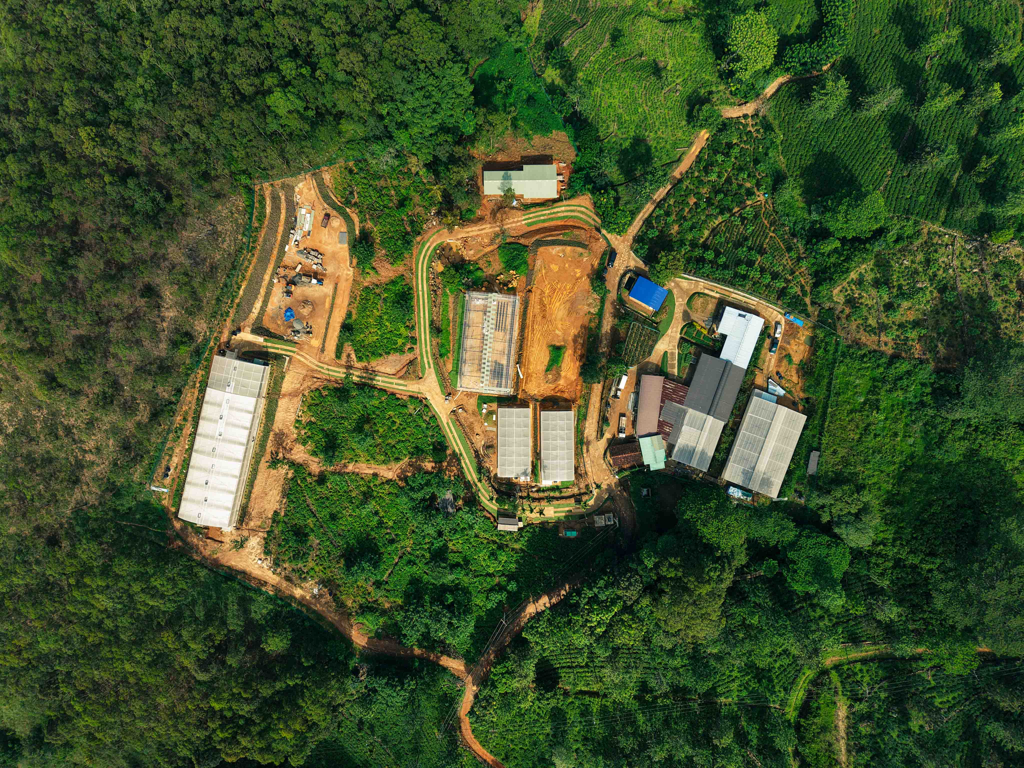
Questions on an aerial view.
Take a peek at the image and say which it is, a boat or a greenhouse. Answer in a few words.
greenhouse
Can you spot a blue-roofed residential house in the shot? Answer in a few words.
Yes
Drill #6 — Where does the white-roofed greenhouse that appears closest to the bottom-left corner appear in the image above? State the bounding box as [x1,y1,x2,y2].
[178,355,275,528]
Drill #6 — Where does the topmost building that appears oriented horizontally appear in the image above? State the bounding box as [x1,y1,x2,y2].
[484,165,557,201]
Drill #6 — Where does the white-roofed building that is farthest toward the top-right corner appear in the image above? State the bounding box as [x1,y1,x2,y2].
[716,306,765,369]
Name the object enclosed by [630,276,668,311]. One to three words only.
house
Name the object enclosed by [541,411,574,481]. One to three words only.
greenhouse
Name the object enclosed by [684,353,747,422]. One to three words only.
building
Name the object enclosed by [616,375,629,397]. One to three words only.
vehicle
